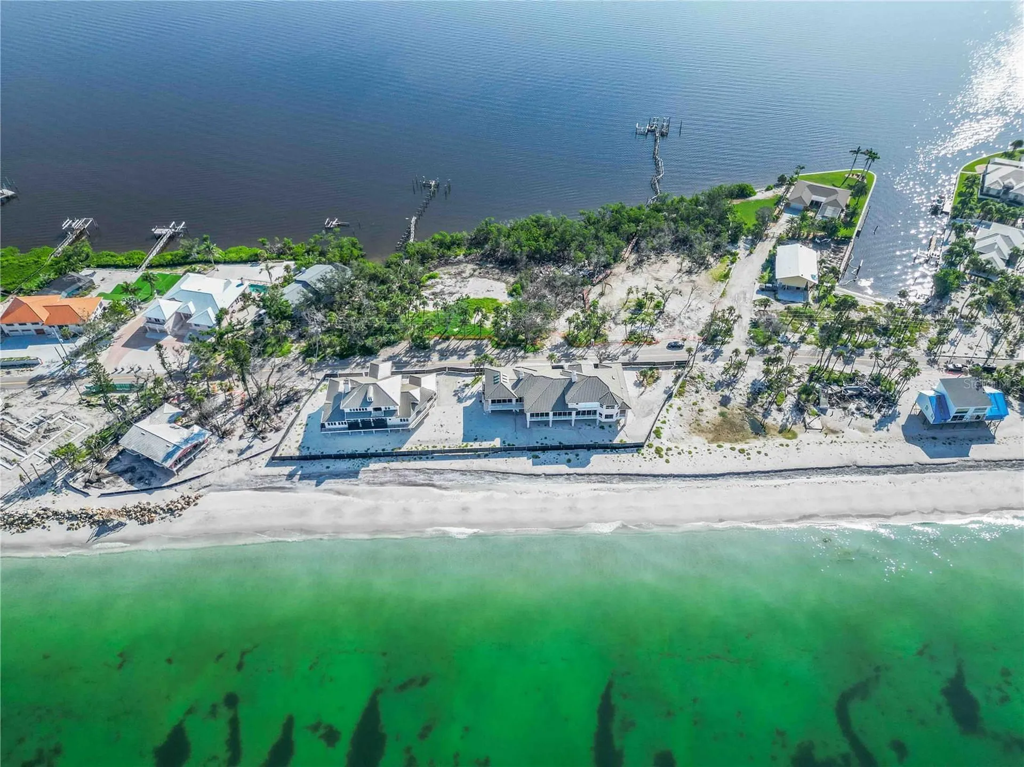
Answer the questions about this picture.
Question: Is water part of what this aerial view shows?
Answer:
Yes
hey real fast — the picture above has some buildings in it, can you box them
[973,226,1024,274]
[770,244,818,295]
[0,295,104,339]
[485,364,631,433]
[322,362,440,443]
[143,273,248,340]
[912,377,1008,434]
[788,180,851,219]
[283,263,349,316]
[119,404,225,478]
[982,159,1024,200]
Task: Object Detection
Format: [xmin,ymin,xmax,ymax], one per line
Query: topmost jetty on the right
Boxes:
[636,117,670,195]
